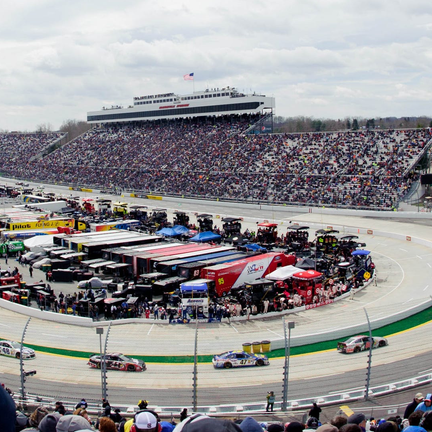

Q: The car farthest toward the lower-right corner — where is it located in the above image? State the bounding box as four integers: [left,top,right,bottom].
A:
[339,337,381,354]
